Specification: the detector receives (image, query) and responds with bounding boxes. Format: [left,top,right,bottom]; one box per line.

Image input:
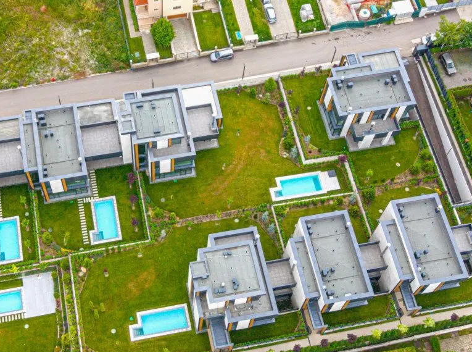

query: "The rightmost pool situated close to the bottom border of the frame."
[128,303,191,342]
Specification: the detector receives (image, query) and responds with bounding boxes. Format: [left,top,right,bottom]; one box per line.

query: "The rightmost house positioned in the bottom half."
[370,193,472,313]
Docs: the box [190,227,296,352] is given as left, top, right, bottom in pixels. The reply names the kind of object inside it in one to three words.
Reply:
house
